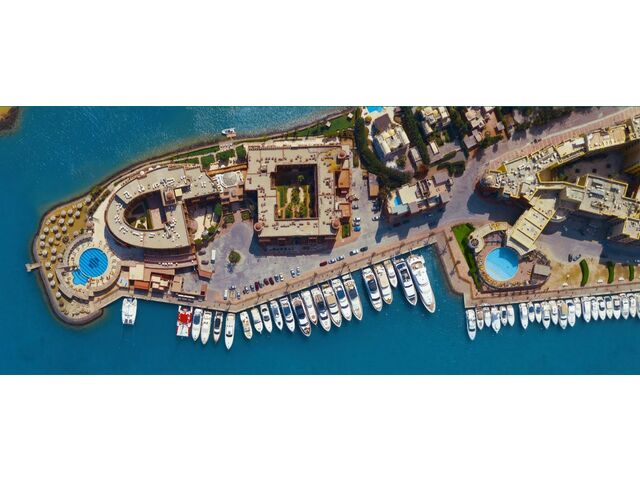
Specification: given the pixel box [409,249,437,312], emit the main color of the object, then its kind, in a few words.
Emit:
white boat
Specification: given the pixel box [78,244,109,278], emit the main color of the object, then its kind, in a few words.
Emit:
blue swimming pool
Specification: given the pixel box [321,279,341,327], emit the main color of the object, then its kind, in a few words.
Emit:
white boat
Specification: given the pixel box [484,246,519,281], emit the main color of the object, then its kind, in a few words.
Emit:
blue swimming pool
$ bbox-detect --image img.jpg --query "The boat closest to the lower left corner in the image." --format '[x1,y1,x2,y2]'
[122,299,138,325]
